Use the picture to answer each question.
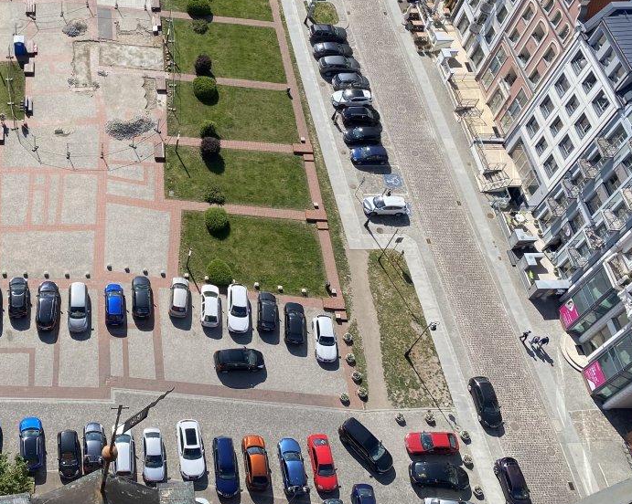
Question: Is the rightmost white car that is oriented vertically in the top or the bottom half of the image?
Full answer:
The rightmost white car that is oriented vertically sits in the bottom half of the picture.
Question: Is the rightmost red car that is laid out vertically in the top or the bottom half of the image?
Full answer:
The rightmost red car that is laid out vertically sits in the bottom half of the picture.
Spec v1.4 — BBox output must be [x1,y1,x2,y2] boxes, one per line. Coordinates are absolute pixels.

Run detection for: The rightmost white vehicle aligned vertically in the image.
[312,313,339,364]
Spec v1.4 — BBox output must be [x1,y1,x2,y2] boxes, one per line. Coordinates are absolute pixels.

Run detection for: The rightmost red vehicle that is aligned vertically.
[307,434,340,494]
